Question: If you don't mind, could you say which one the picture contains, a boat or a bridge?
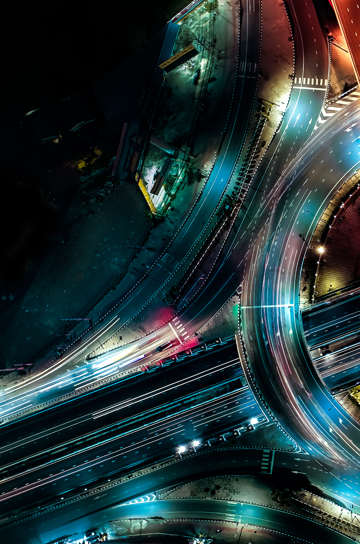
bridge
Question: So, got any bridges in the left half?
No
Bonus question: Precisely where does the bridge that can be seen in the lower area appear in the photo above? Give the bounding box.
[233,309,334,436]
